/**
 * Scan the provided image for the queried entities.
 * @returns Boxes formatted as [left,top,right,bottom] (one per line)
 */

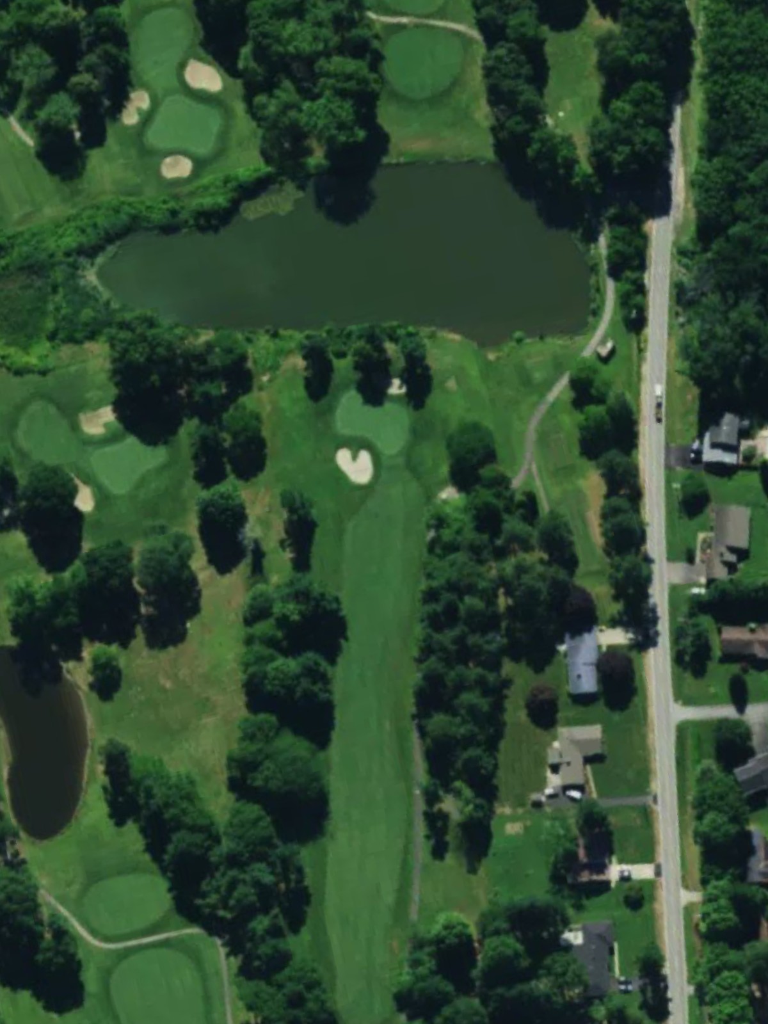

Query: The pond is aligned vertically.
[0,640,87,839]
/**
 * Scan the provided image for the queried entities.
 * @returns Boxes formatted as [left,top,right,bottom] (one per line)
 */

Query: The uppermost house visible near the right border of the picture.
[702,413,739,464]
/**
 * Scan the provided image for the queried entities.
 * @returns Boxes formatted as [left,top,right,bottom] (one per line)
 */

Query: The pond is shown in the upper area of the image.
[94,161,590,348]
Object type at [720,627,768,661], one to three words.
house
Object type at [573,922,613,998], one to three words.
house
